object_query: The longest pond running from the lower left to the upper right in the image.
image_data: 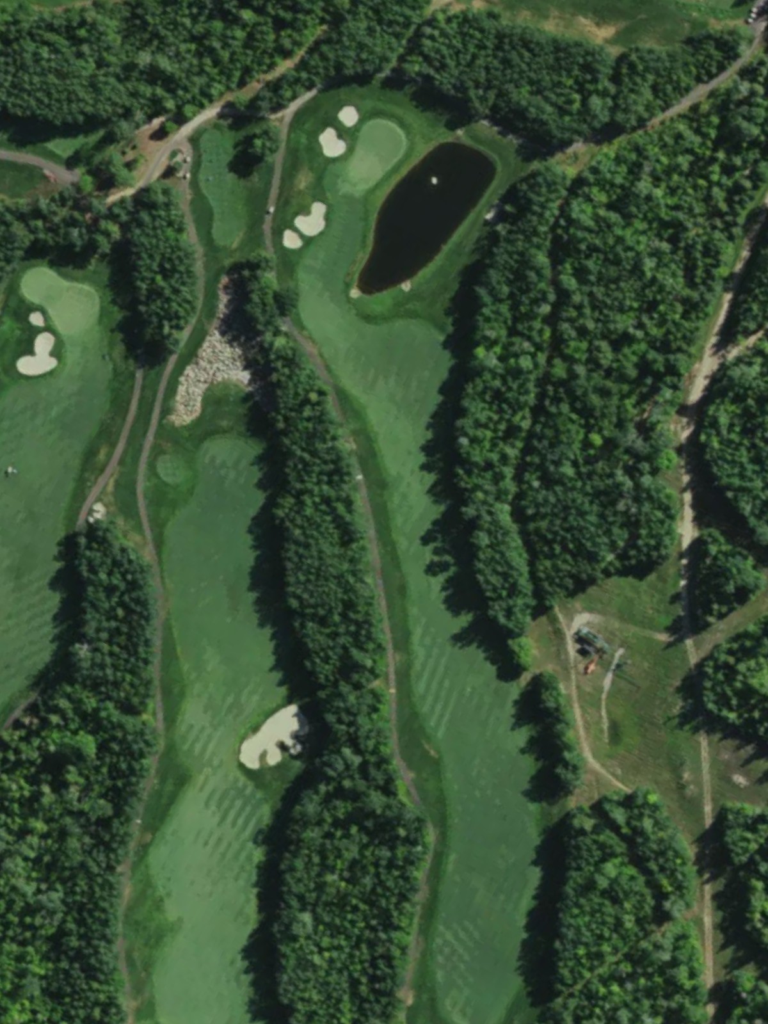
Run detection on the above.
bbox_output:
[357,141,497,294]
